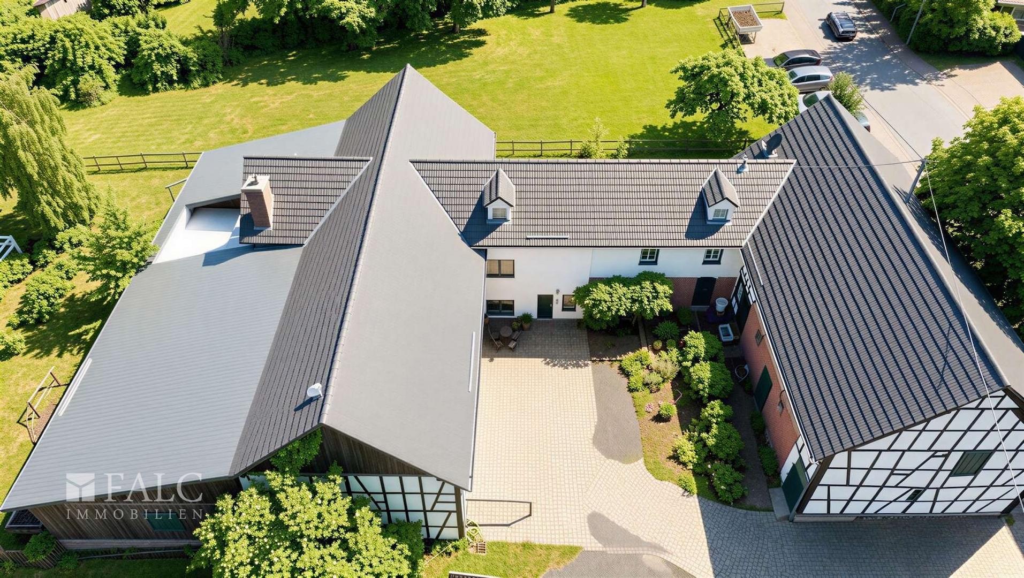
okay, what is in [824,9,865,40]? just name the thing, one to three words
car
